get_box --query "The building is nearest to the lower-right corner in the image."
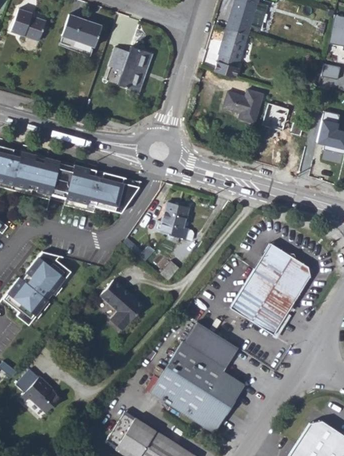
[284,421,344,456]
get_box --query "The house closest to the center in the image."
[158,198,190,236]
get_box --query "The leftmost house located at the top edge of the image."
[12,4,48,40]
